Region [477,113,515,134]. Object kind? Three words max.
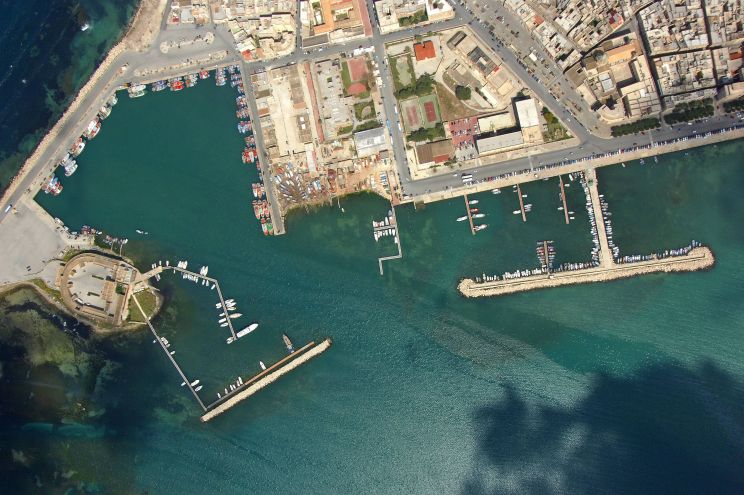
shed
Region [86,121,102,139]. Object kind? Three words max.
boat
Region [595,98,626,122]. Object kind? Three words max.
building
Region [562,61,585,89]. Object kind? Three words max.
building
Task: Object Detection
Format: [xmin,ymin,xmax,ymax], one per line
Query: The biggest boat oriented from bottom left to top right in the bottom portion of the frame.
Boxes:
[235,324,258,339]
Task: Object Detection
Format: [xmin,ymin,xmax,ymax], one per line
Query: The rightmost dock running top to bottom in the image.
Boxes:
[583,168,618,267]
